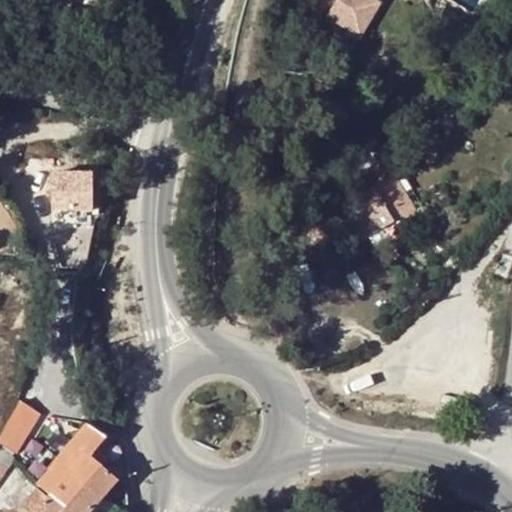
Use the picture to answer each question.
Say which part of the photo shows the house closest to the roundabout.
bottom left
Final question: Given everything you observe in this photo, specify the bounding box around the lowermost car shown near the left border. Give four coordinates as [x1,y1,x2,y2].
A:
[26,384,46,399]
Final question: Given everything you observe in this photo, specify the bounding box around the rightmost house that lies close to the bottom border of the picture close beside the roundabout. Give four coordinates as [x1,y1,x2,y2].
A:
[36,422,118,512]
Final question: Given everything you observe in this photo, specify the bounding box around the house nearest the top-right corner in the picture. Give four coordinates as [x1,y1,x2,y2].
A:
[325,0,382,34]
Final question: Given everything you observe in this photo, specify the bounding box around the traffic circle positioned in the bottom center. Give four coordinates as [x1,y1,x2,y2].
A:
[134,336,304,506]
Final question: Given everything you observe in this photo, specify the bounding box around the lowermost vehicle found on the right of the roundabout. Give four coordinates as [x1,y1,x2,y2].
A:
[344,374,376,392]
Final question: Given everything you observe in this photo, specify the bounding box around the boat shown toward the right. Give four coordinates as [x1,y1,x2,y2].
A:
[348,271,362,295]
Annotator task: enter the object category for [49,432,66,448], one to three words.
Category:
umbrella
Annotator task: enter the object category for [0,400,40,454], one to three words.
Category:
shed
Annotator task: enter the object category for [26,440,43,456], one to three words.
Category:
umbrella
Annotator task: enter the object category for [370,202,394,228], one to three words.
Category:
house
